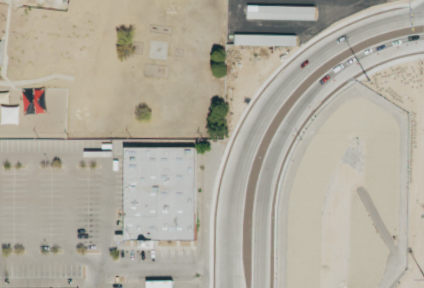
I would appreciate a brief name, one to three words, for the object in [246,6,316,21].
building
